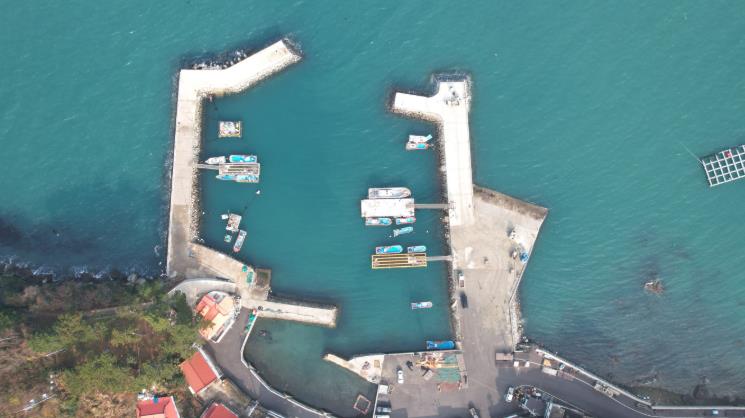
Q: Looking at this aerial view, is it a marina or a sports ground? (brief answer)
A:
marina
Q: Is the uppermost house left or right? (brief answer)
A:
left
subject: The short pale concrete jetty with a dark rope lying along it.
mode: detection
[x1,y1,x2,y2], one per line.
[241,297,337,328]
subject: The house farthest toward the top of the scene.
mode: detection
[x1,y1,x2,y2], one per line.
[193,290,242,342]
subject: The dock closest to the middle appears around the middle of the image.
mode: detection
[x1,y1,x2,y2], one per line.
[361,199,414,217]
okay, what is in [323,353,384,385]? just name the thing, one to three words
pier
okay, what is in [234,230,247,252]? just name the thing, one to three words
boat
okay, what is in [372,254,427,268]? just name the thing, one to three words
pier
